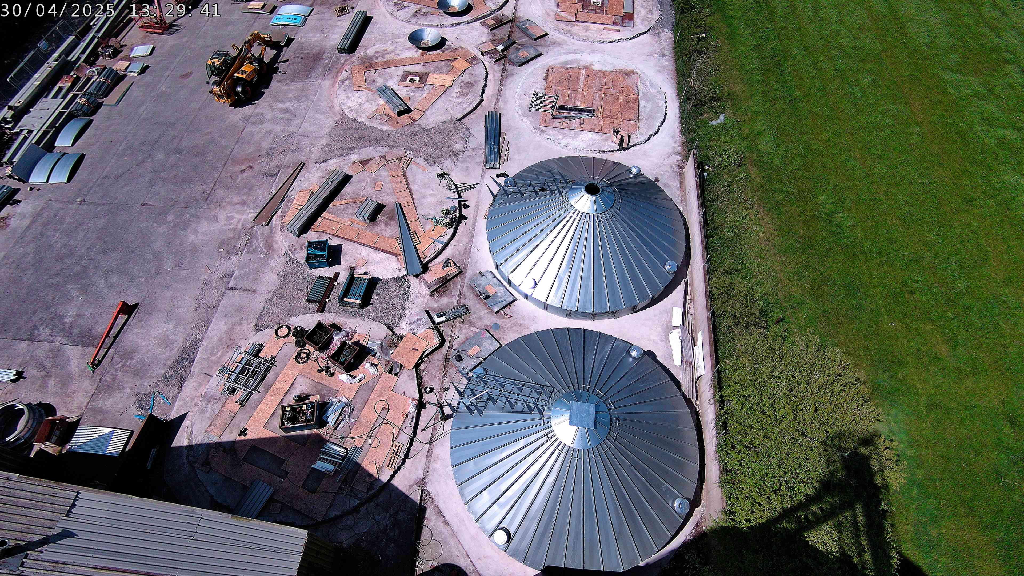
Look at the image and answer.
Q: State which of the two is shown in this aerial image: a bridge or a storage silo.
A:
storage silo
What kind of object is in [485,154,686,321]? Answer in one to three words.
silo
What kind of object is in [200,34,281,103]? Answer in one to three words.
work vehicle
